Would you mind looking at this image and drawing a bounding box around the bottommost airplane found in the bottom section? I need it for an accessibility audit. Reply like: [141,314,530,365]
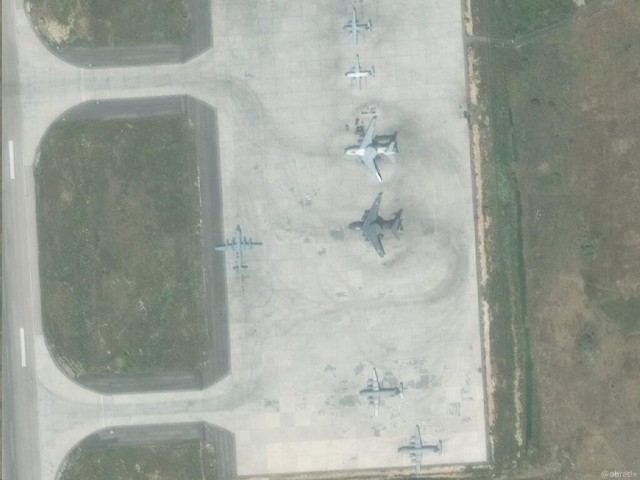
[398,427,447,473]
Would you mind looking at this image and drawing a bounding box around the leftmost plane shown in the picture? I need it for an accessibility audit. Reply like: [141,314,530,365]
[214,226,262,273]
